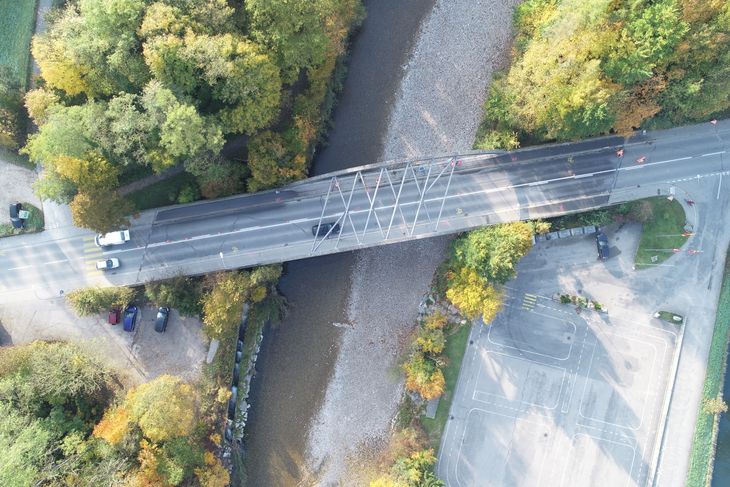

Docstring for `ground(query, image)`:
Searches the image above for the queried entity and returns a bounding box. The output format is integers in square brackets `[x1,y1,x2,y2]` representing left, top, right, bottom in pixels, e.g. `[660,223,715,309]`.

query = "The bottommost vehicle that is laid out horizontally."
[95,258,120,270]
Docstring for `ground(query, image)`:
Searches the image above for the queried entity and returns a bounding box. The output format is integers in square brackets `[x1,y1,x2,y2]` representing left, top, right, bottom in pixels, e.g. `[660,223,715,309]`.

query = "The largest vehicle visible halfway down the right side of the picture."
[595,233,610,261]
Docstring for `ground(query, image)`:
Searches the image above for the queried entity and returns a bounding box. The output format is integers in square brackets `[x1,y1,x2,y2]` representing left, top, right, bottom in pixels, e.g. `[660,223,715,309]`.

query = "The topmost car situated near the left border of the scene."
[9,201,26,227]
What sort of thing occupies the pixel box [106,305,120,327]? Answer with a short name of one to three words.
vehicle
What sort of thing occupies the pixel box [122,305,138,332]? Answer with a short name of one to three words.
car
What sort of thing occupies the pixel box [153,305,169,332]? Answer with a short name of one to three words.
car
